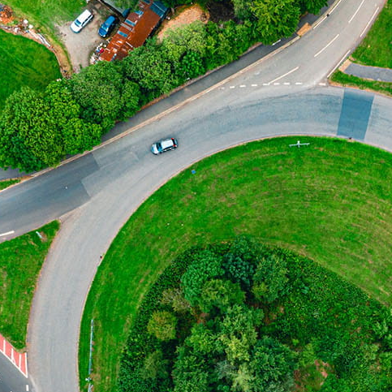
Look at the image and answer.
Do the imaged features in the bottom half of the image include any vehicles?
No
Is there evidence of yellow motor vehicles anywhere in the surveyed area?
No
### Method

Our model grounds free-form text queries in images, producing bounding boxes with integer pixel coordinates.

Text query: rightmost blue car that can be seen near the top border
[98,13,117,38]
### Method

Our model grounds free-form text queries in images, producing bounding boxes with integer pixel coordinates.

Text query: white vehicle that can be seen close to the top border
[72,8,93,32]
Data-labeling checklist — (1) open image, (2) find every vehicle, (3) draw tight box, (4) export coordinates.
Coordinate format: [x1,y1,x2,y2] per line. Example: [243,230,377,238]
[72,8,93,32]
[151,137,179,154]
[98,13,117,38]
